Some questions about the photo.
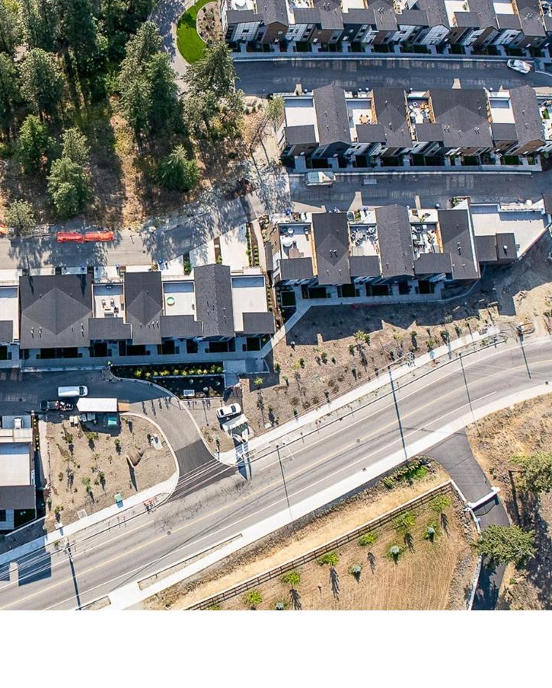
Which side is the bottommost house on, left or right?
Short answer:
left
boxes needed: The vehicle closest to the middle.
[219,404,243,418]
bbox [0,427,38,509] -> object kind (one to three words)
house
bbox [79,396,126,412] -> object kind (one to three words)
trailer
